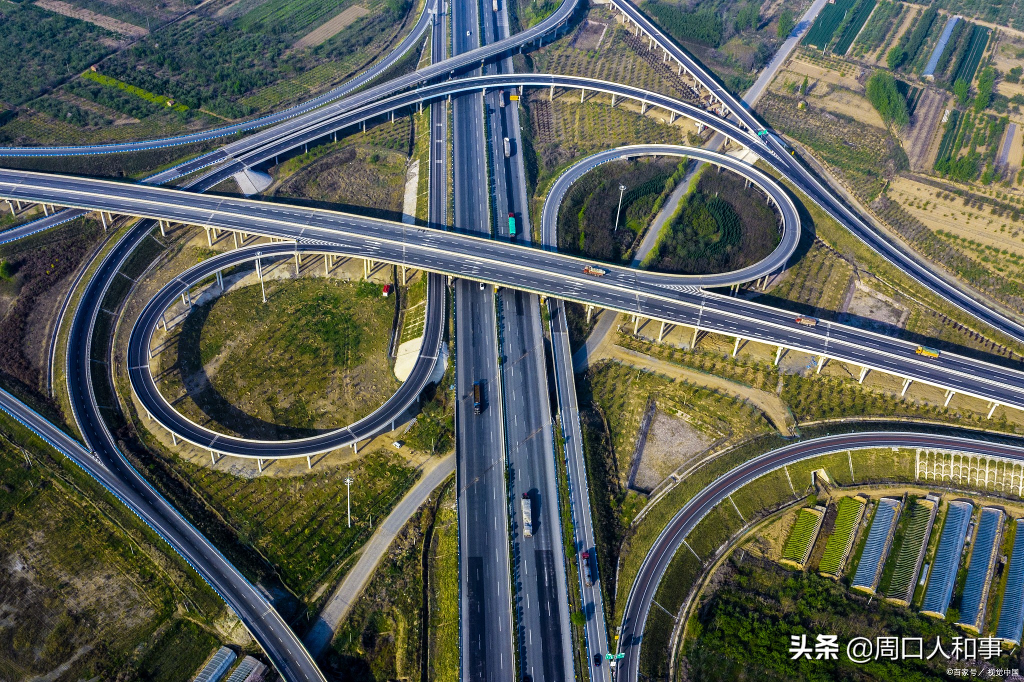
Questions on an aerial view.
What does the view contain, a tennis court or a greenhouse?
greenhouse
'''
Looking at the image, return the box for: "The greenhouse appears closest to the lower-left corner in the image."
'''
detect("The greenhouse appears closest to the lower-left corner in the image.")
[195,648,237,682]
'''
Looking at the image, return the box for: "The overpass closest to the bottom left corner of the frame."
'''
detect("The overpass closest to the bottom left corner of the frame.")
[240,601,328,682]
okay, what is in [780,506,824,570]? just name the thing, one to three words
greenhouse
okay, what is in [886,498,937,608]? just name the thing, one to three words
greenhouse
